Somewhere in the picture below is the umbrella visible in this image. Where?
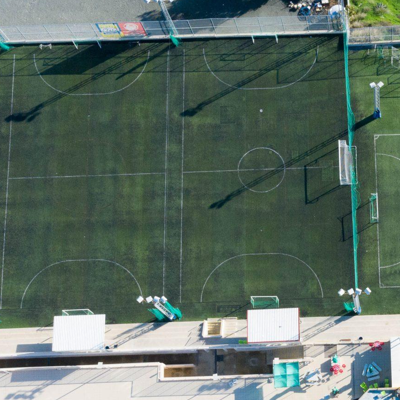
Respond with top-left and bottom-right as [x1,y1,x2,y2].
[274,362,302,390]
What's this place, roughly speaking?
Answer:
sports ground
